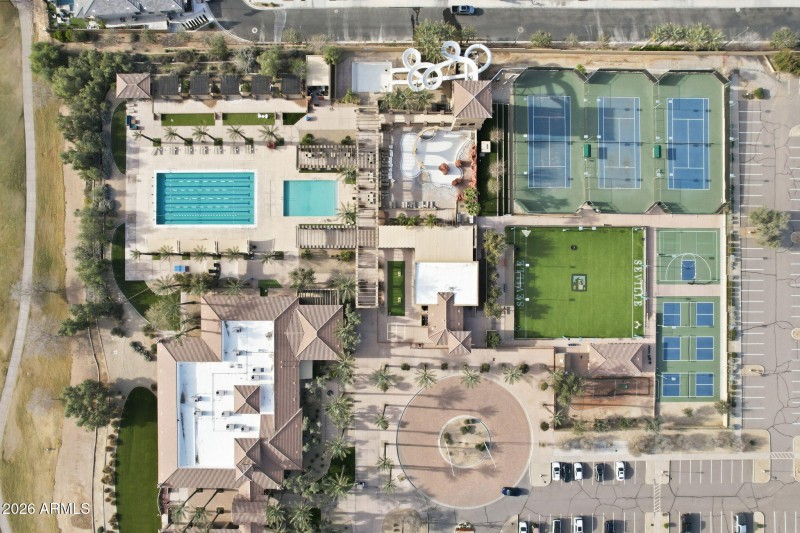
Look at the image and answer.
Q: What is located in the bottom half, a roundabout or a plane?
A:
roundabout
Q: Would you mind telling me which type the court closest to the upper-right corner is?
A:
tennis court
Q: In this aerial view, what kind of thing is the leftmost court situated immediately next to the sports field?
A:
tennis court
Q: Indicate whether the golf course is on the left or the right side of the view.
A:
left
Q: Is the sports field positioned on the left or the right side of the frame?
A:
right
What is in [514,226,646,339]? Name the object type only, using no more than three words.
sports field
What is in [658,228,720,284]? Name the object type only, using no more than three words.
basketball court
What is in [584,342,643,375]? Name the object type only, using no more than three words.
building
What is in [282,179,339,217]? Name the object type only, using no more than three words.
swimming pool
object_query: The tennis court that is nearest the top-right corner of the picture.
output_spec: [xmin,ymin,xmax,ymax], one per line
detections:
[665,98,714,190]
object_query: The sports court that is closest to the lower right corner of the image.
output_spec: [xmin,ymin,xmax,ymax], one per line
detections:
[662,372,713,399]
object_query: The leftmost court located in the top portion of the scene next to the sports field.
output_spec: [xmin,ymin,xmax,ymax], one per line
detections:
[526,96,575,188]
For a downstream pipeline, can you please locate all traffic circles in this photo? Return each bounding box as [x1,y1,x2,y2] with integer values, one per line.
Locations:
[395,373,534,511]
